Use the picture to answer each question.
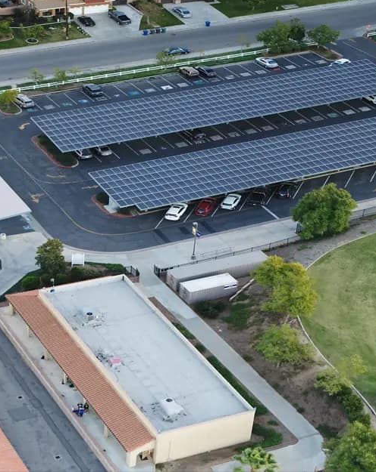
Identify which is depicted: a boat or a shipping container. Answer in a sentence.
Of the two, only a shipping container appears.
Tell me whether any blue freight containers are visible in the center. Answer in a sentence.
No, there is no blue freight container in the center.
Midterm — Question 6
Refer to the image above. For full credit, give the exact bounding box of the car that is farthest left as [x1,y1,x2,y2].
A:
[16,95,36,108]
